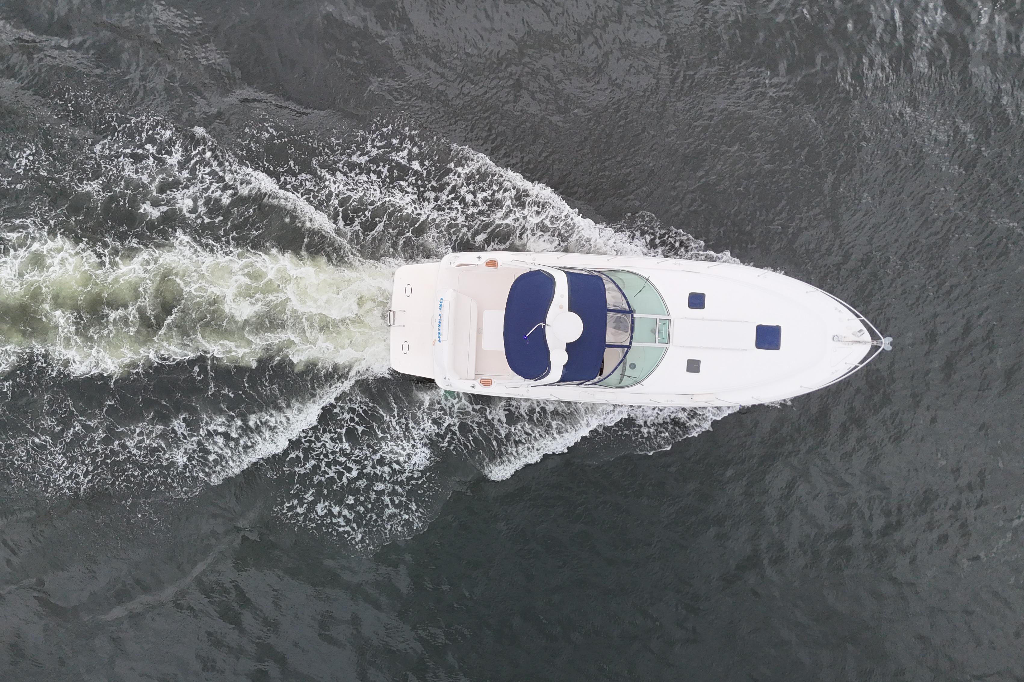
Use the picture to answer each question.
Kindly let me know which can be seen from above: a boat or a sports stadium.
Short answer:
boat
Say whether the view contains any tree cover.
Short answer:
No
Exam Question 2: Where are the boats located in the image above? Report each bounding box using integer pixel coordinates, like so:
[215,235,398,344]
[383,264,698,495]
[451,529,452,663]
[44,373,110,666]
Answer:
[387,250,885,407]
